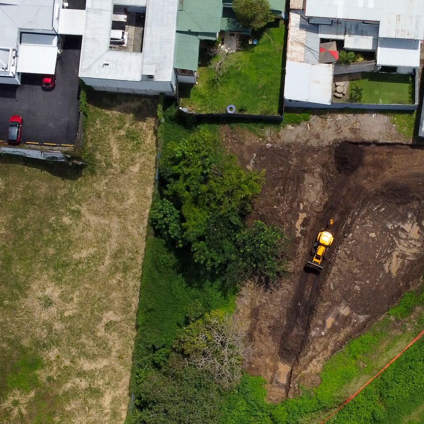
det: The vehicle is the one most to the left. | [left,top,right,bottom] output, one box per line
[8,115,24,145]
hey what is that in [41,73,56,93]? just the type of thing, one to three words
car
